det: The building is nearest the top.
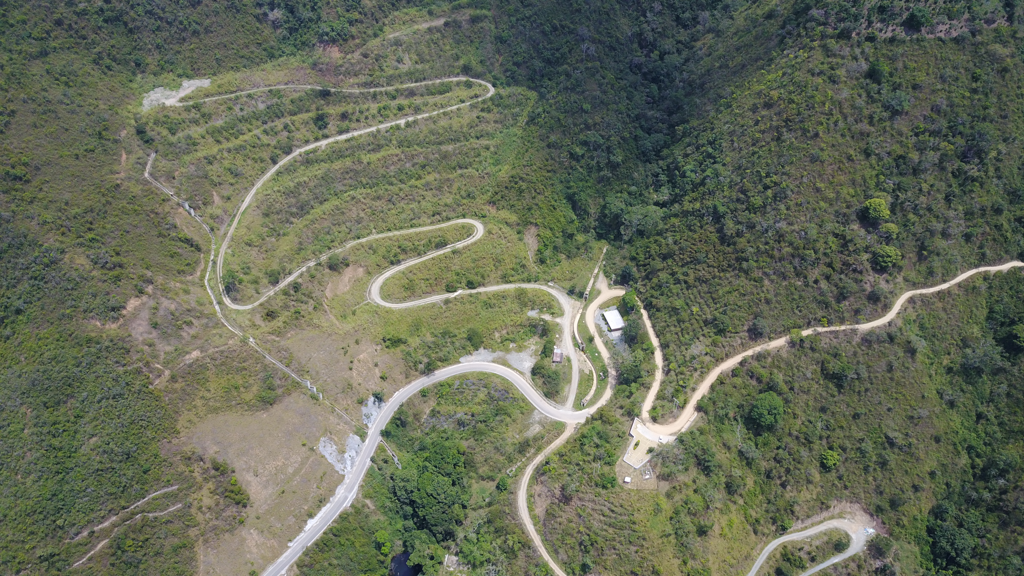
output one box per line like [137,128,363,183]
[603,310,625,333]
